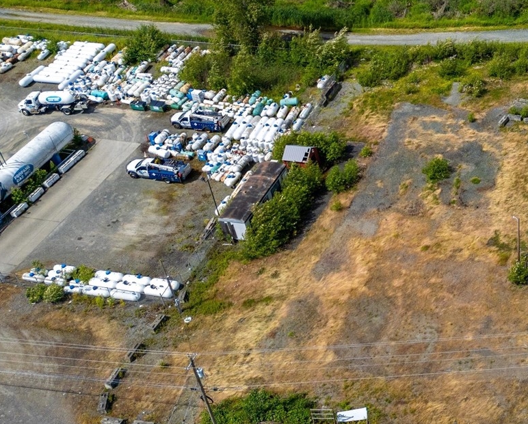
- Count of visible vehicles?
3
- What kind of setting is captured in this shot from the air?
industrial area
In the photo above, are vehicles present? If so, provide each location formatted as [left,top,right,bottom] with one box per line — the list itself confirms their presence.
[12,88,89,114]
[120,154,195,179]
[165,104,232,127]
